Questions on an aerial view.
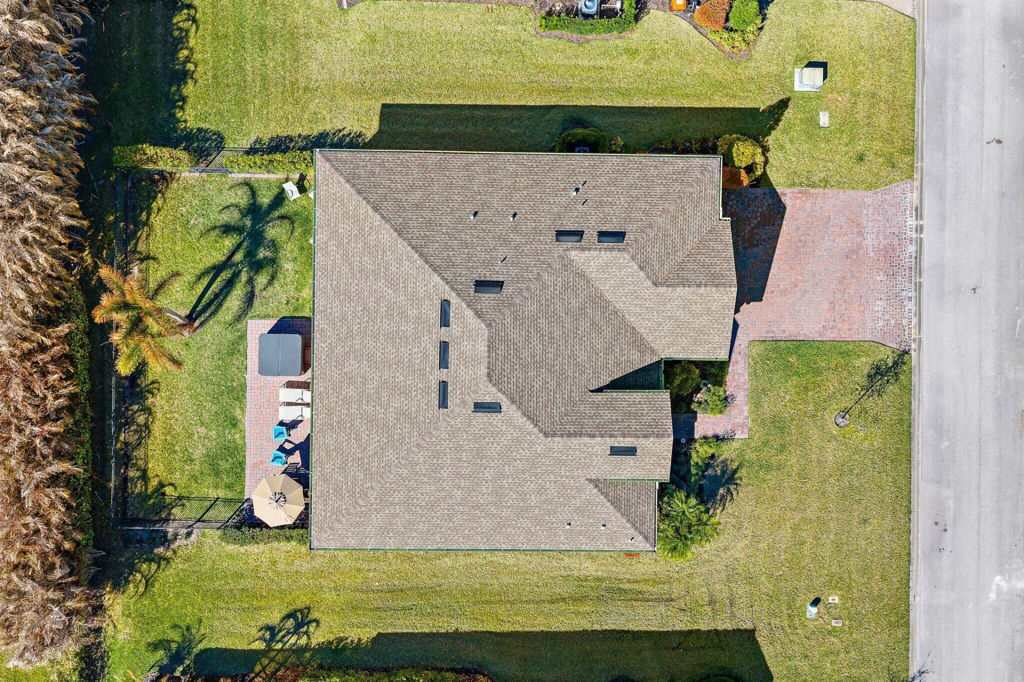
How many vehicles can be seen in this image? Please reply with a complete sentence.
The photo contains no vehicles.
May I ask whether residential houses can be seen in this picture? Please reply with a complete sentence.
Yes, a residential house can be made out from above.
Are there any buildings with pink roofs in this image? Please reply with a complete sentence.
No, the frame has no building with a pink roof in it.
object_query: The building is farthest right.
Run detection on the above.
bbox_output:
[307,147,737,556]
